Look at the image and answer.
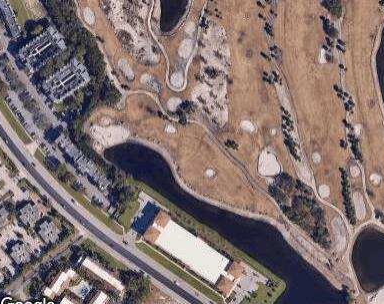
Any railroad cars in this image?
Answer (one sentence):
No, the photo shows no railroad car.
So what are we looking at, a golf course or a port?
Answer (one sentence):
The picture captures a golf course.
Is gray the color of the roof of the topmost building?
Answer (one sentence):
Yes, the roof of the topmost building is indeed gray.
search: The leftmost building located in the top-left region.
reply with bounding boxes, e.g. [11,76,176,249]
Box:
[0,0,22,39]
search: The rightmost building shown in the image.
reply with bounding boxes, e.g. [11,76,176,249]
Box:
[144,209,246,299]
